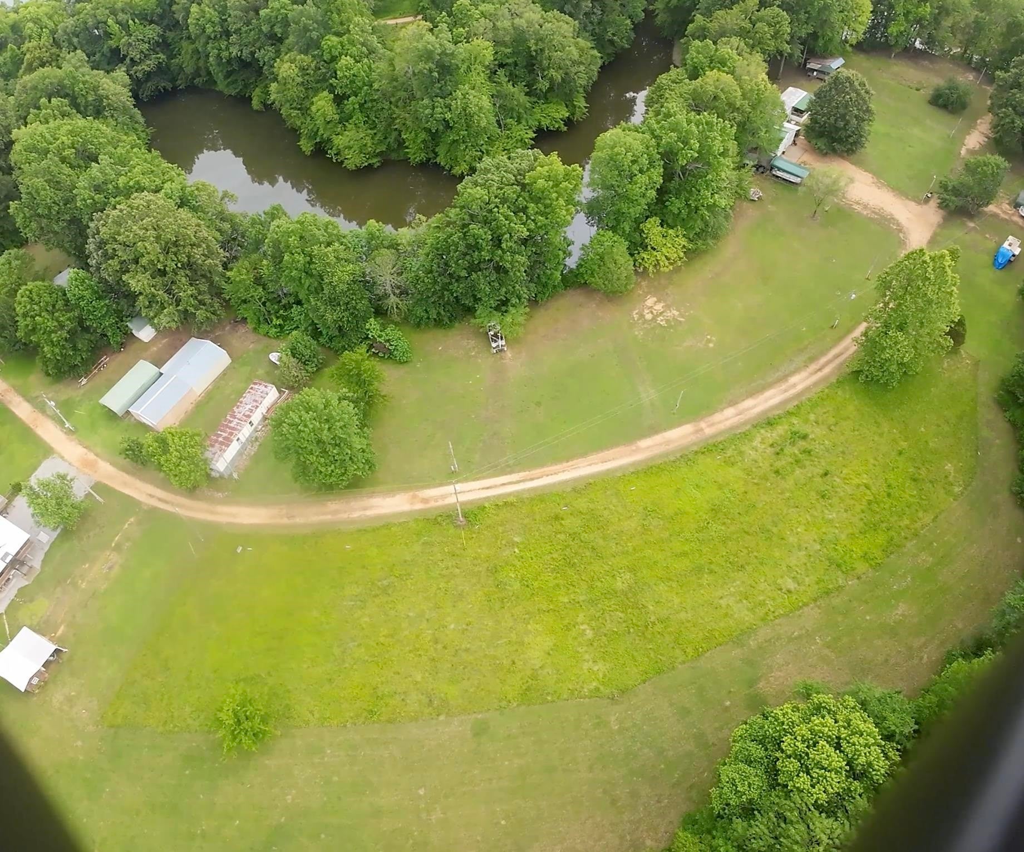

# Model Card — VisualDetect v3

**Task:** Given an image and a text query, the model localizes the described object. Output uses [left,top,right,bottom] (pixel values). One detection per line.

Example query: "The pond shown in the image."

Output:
[133,0,677,278]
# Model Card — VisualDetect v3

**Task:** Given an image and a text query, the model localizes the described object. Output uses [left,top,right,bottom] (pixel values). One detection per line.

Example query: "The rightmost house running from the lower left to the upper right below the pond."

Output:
[199,379,278,475]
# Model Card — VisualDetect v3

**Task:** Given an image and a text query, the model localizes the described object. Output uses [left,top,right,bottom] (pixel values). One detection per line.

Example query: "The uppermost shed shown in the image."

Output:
[802,51,847,84]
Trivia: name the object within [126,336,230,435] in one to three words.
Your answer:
building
